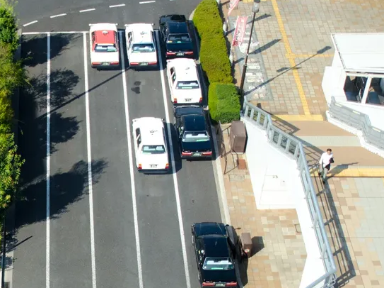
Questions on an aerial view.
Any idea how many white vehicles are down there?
4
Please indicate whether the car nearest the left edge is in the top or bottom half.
top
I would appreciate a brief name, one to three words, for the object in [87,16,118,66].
car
